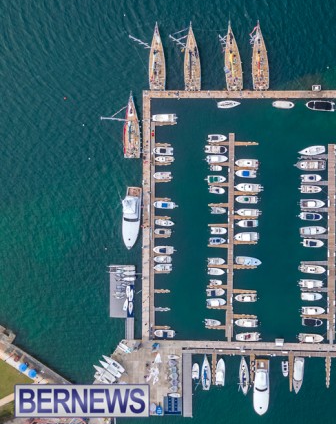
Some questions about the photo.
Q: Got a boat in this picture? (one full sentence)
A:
Yes, there's a boat down there.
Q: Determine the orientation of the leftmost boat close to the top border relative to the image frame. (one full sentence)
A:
The leftmost boat close to the top border runs vertically in the image.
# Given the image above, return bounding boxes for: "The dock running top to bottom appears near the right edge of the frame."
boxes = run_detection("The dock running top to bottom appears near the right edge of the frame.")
[298,144,336,343]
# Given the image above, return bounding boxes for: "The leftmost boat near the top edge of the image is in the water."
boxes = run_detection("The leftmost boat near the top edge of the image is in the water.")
[132,21,166,90]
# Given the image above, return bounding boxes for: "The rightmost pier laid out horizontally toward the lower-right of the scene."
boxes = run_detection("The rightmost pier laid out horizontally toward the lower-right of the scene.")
[183,340,336,391]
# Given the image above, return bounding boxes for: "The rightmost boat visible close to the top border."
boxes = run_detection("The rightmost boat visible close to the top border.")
[251,19,271,92]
